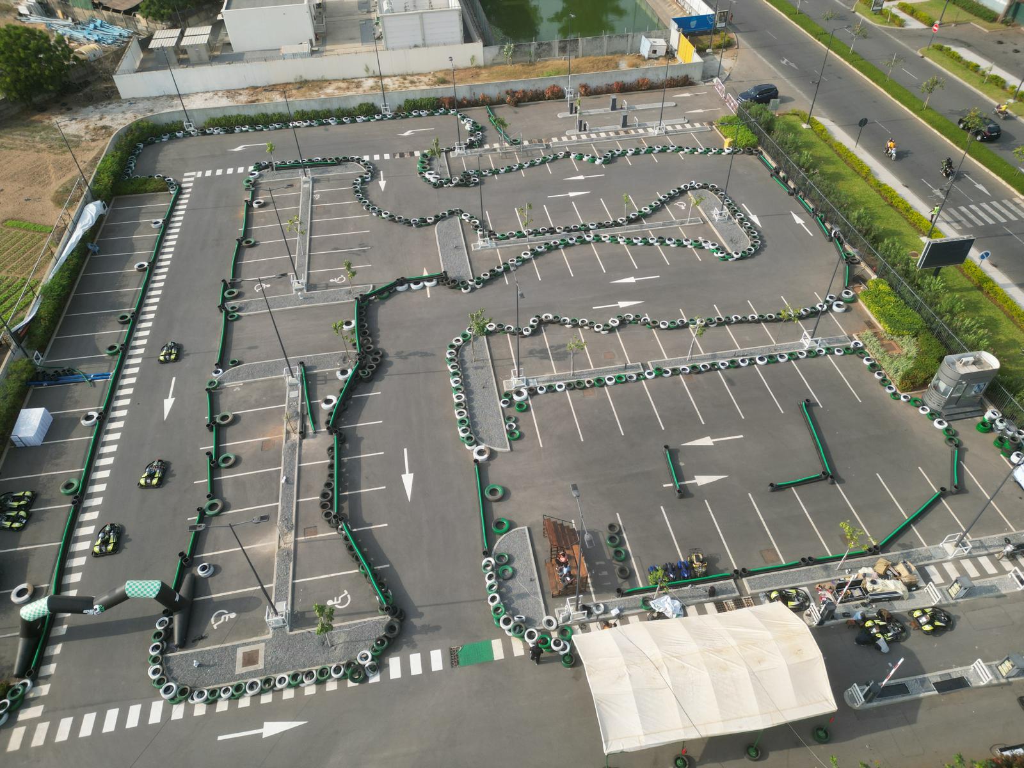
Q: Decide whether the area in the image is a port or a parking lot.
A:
parking lot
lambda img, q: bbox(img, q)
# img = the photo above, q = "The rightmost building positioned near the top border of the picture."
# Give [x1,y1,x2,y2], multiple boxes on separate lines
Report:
[638,35,670,62]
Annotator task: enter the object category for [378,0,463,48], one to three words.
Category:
building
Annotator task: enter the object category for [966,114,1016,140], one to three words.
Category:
car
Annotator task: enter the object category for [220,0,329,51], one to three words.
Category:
building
